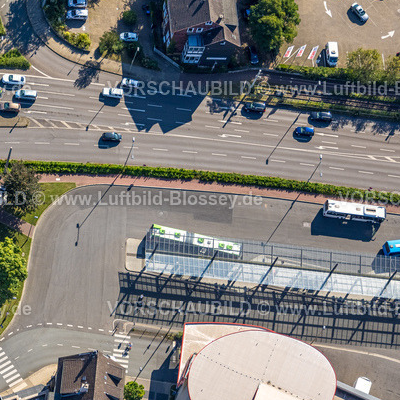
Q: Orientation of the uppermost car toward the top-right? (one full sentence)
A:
The uppermost car toward the top-right is oriented diagonally.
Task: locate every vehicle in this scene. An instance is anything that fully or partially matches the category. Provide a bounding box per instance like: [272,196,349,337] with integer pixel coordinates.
[68,0,87,8]
[244,101,266,113]
[294,126,314,137]
[120,31,139,42]
[0,102,21,113]
[2,74,25,86]
[380,241,400,260]
[350,3,370,23]
[321,202,385,225]
[65,8,89,21]
[325,37,340,66]
[101,131,122,142]
[102,87,123,99]
[120,78,138,89]
[356,372,372,391]
[15,89,37,101]
[309,110,332,122]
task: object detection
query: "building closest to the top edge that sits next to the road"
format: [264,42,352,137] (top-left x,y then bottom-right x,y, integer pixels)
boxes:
[159,0,241,80]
